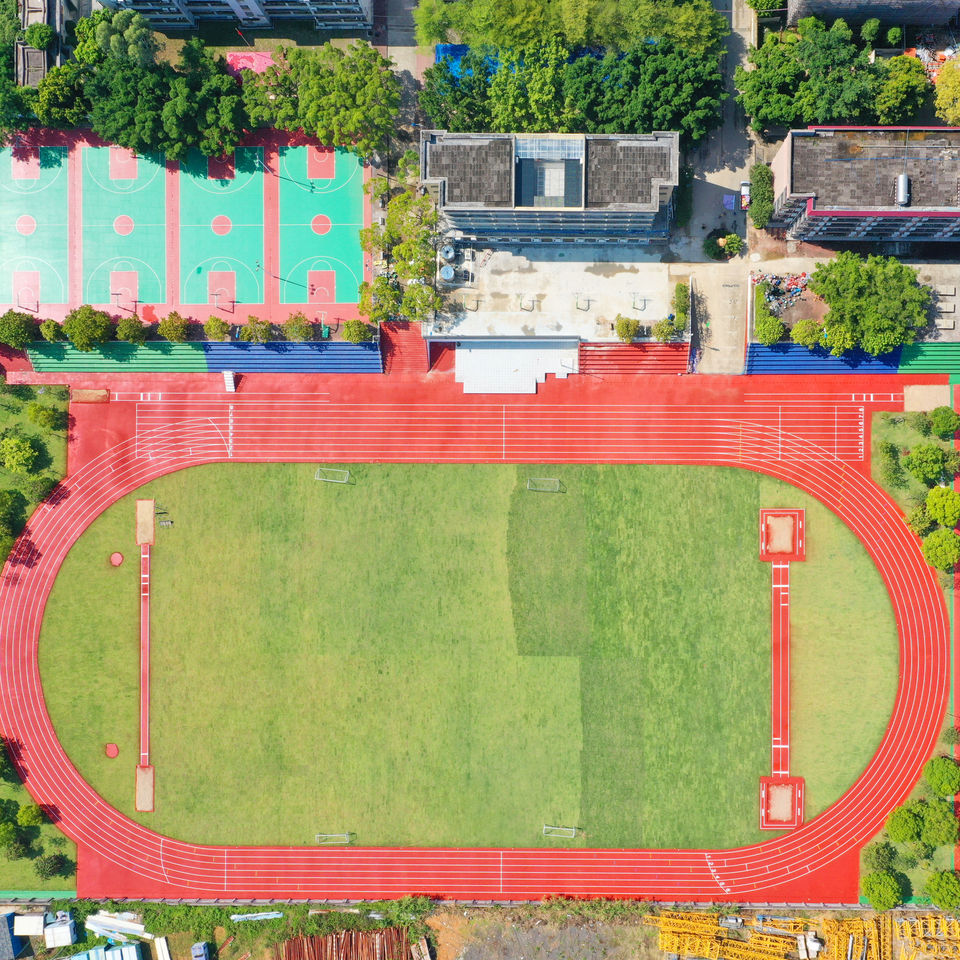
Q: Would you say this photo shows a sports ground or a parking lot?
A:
sports ground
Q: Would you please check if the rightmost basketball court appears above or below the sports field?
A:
above it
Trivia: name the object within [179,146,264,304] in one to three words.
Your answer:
basketball court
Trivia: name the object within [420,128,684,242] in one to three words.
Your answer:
building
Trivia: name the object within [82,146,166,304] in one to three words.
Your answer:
basketball court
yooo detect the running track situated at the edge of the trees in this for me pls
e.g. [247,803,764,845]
[0,374,948,902]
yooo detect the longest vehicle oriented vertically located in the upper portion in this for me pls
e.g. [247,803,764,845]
[740,179,753,208]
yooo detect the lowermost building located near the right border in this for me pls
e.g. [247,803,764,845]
[761,125,960,243]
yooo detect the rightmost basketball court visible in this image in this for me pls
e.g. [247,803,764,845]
[279,146,364,304]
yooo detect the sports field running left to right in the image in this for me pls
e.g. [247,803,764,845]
[39,462,899,848]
